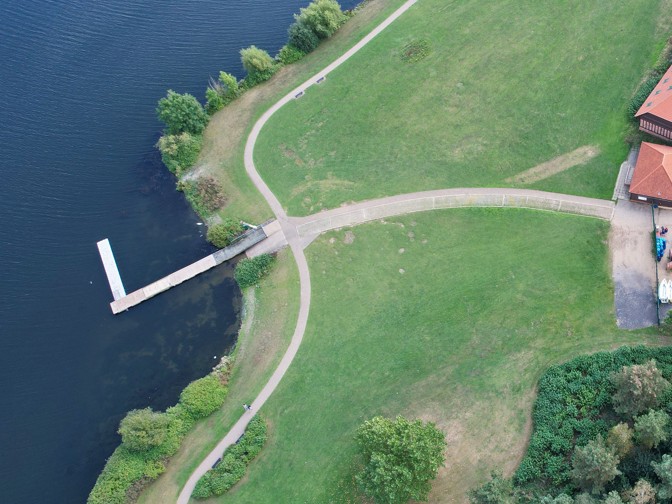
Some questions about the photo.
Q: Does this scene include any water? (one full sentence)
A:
Yes, water shows up in the scene.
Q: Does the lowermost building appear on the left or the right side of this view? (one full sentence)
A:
The lowermost building is on the right side of the image.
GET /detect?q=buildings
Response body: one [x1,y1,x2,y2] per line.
[634,62,672,141]
[629,141,672,210]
